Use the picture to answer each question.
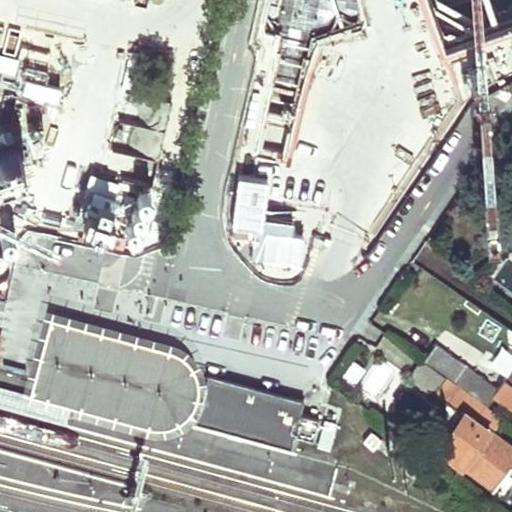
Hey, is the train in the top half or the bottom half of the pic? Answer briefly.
bottom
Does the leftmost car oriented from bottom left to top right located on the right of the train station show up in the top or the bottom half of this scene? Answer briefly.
bottom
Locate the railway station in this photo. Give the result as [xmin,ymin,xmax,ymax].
[23,312,209,442]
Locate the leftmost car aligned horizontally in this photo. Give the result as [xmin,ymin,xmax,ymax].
[52,244,76,256]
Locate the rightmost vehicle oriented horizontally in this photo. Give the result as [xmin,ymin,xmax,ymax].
[320,326,343,338]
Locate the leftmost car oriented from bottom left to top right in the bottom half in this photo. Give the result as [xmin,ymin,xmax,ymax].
[318,346,337,367]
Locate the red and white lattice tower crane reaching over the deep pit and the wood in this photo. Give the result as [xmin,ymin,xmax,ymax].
[464,0,501,258]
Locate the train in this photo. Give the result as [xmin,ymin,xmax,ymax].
[0,418,80,452]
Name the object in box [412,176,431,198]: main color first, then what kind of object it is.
white car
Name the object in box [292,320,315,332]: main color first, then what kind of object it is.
white vehicle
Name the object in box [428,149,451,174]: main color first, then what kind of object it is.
white vehicle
